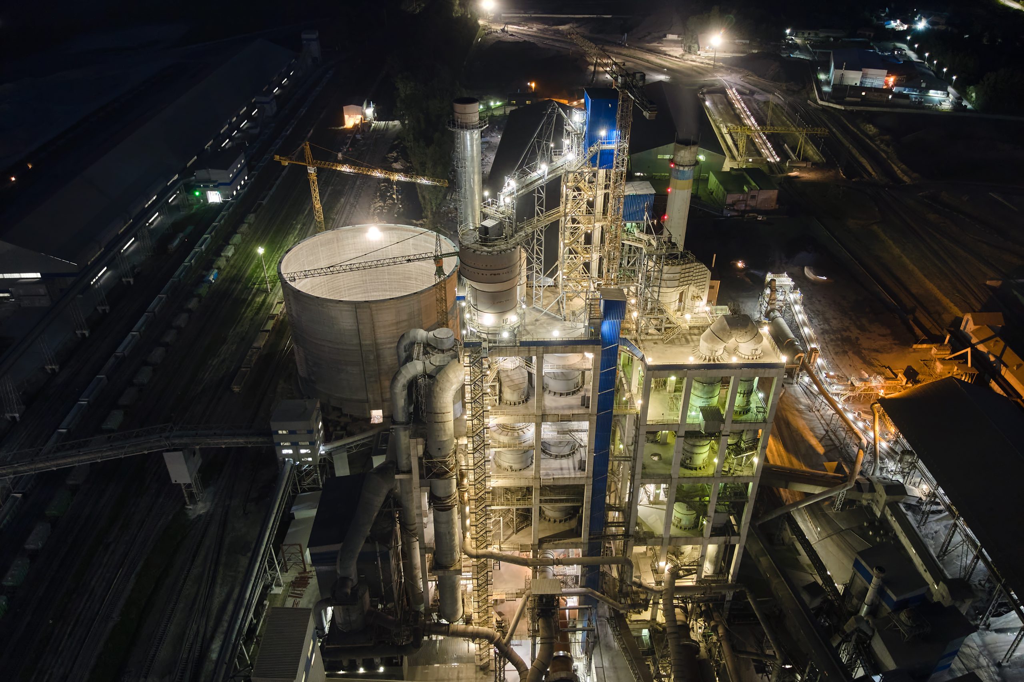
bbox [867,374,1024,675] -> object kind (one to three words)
warehouse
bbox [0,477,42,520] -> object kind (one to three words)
rail car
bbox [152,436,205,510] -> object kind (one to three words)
house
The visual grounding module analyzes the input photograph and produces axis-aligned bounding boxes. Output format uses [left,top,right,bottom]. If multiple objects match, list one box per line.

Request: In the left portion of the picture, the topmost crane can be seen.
[273,142,448,233]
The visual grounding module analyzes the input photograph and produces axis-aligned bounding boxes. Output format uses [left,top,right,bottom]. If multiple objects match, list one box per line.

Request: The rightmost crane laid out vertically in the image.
[567,23,657,288]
